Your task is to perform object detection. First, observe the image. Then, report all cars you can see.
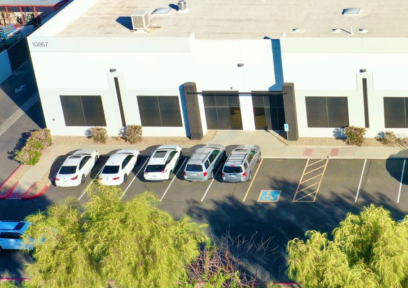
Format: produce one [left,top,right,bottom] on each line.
[175,140,220,181]
[214,141,257,181]
[53,144,105,184]
[0,212,53,253]
[135,140,182,180]
[93,145,143,184]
